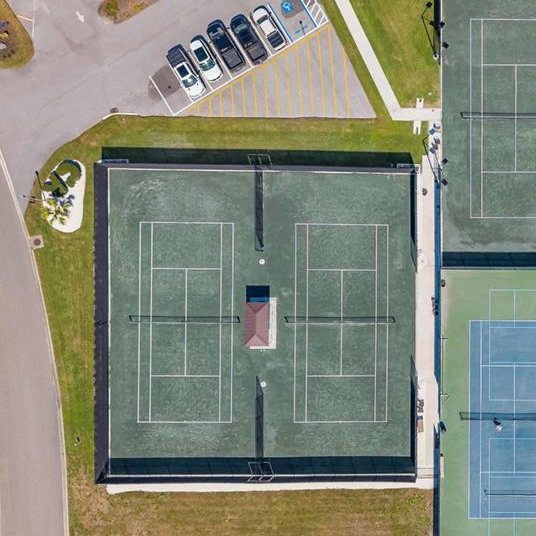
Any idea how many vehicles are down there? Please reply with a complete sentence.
I count 5 vehicles.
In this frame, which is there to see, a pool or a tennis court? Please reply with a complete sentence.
The image shows a tennis court.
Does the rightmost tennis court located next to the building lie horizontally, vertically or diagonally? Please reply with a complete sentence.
The rightmost tennis court located next to the building has been laid out vertically relative to the frame.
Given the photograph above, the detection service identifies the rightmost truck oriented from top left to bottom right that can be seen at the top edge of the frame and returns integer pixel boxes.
[252,6,287,51]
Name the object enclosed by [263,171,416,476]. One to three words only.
tennis court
